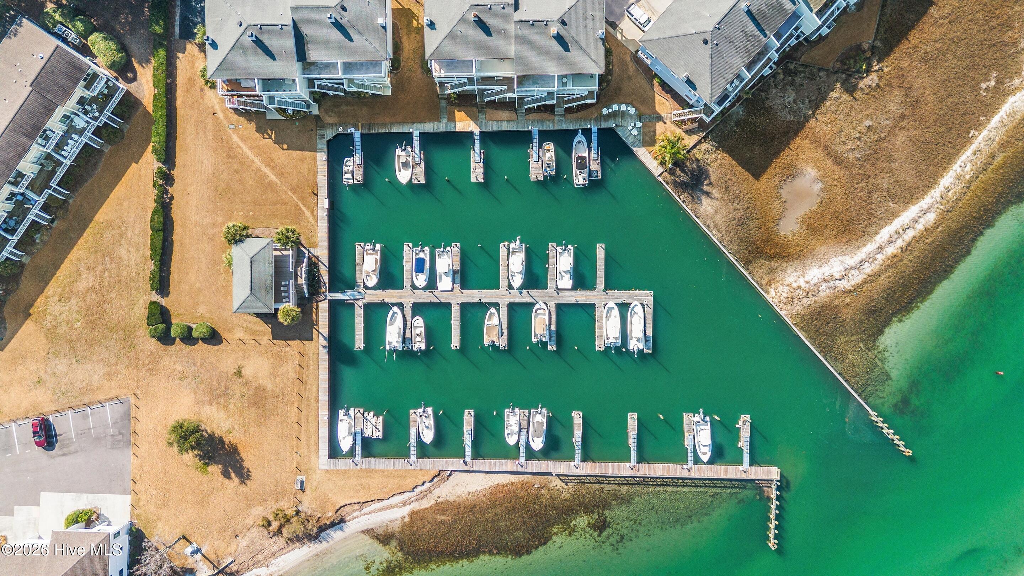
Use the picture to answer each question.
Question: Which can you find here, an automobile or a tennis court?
automobile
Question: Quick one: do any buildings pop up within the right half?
Yes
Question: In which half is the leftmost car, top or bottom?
bottom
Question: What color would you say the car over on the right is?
white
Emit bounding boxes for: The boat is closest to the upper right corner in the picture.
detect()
[573,130,589,188]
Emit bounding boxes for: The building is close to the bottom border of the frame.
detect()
[0,508,132,576]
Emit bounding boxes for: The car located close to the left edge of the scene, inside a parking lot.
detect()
[29,415,49,447]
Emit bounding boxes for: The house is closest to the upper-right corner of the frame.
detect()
[633,0,851,127]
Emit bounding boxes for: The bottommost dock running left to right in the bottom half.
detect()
[319,456,782,481]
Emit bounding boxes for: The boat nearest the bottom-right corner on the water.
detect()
[695,406,712,463]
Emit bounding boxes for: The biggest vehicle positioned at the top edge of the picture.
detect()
[628,2,656,31]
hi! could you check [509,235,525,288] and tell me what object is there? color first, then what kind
white boat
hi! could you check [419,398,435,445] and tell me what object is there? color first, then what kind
white boat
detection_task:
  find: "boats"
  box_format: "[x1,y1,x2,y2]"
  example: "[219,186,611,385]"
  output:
[505,399,519,446]
[386,306,403,359]
[604,302,621,357]
[396,138,413,184]
[695,406,712,463]
[530,401,546,451]
[628,302,644,360]
[336,401,354,454]
[412,316,425,358]
[542,142,555,184]
[343,158,353,192]
[413,240,429,288]
[509,235,525,288]
[436,240,453,290]
[419,398,435,445]
[532,302,548,350]
[362,238,381,287]
[573,130,589,188]
[484,308,500,353]
[557,238,573,288]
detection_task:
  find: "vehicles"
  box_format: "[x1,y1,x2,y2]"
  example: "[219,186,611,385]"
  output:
[29,415,49,447]
[628,2,656,31]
